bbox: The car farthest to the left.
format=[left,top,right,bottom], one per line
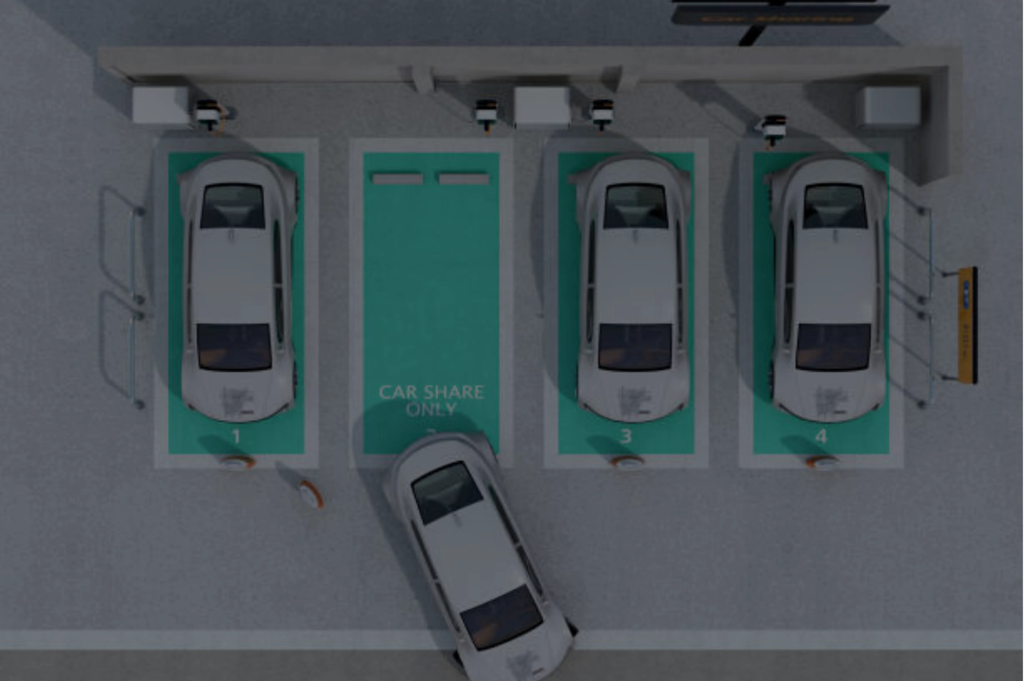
[182,154,298,424]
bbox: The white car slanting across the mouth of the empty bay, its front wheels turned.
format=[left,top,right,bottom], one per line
[381,432,579,681]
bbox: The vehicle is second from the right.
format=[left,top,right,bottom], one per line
[576,154,690,424]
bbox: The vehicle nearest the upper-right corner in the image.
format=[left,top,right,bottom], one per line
[769,154,886,424]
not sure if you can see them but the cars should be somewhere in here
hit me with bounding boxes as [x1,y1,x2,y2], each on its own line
[381,432,579,681]
[769,154,886,424]
[182,154,298,424]
[576,154,690,424]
